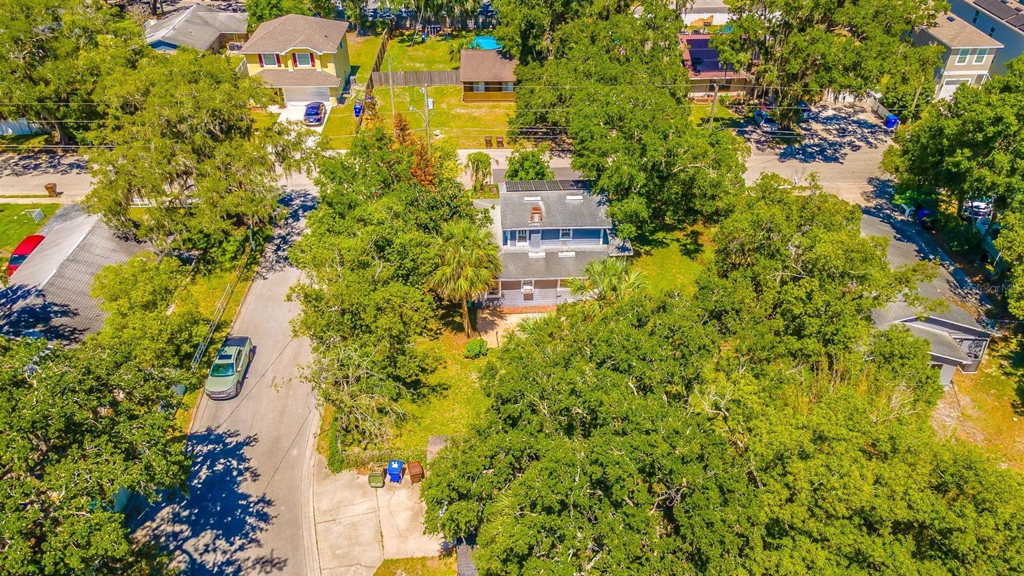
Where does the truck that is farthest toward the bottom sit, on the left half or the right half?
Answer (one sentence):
It is on the left.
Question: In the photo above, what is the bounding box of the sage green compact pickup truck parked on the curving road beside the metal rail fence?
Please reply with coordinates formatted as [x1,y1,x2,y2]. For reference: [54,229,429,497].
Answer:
[206,330,253,393]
